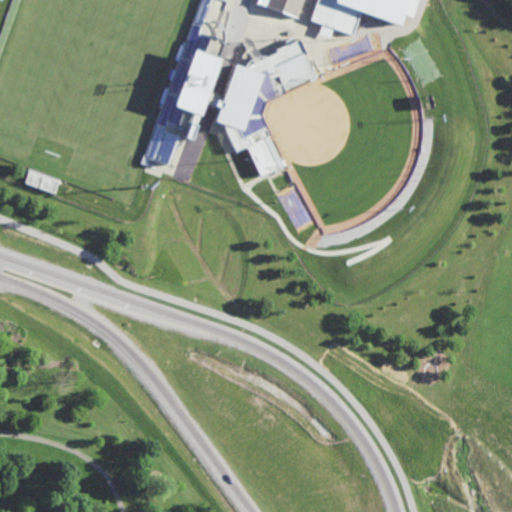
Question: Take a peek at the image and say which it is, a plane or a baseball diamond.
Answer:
baseball diamond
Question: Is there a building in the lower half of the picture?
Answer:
No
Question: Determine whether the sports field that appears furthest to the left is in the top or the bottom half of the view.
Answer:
top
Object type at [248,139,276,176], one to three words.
building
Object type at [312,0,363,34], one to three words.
building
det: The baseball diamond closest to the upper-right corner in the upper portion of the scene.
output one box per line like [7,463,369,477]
[263,47,422,247]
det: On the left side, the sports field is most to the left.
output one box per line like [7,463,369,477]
[0,0,191,205]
